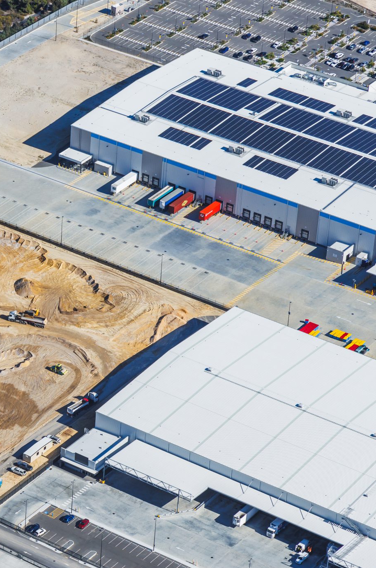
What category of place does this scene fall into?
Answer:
industrial area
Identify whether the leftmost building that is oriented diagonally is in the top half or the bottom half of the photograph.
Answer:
bottom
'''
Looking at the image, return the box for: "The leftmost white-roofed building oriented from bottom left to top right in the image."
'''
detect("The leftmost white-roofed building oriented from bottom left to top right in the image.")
[24,437,52,463]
